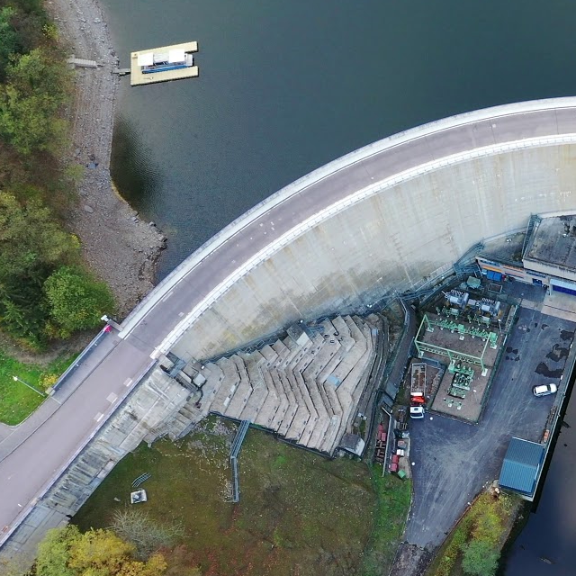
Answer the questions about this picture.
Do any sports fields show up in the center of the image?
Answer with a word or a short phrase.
No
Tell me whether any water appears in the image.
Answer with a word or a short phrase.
Yes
